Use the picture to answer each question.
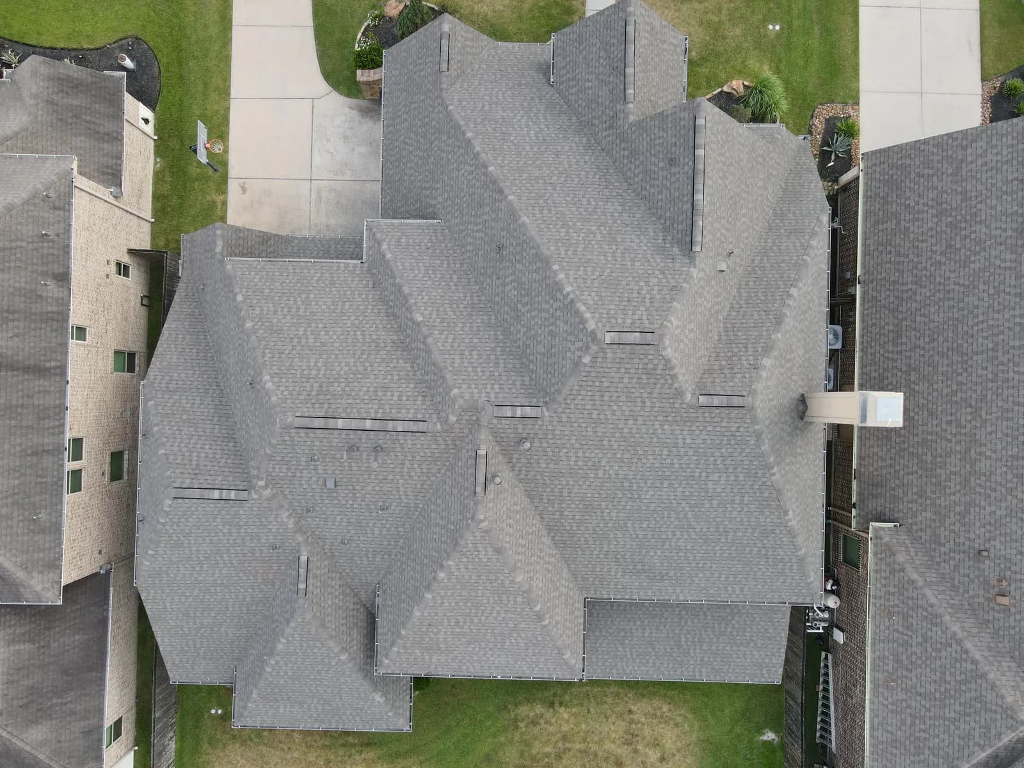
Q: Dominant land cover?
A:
buildings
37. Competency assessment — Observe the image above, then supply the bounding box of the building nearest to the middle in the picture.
[134,0,902,731]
